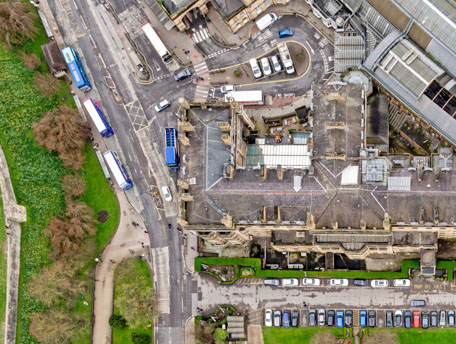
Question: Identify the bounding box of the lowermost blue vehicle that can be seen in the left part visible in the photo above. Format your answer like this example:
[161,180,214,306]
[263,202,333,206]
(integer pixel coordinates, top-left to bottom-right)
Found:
[167,127,181,171]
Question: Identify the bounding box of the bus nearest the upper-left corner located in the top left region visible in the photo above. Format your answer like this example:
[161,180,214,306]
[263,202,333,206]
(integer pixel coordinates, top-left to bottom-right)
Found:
[62,49,93,95]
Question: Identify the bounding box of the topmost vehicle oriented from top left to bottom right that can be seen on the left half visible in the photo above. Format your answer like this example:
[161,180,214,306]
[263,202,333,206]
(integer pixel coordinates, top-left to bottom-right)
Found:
[141,22,174,66]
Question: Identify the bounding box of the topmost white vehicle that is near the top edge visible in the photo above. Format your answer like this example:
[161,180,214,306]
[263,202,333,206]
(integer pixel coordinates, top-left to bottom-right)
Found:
[255,14,276,31]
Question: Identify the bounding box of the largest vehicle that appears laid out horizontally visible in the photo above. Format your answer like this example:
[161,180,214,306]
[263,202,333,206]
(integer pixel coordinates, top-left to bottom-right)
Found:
[226,92,266,106]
